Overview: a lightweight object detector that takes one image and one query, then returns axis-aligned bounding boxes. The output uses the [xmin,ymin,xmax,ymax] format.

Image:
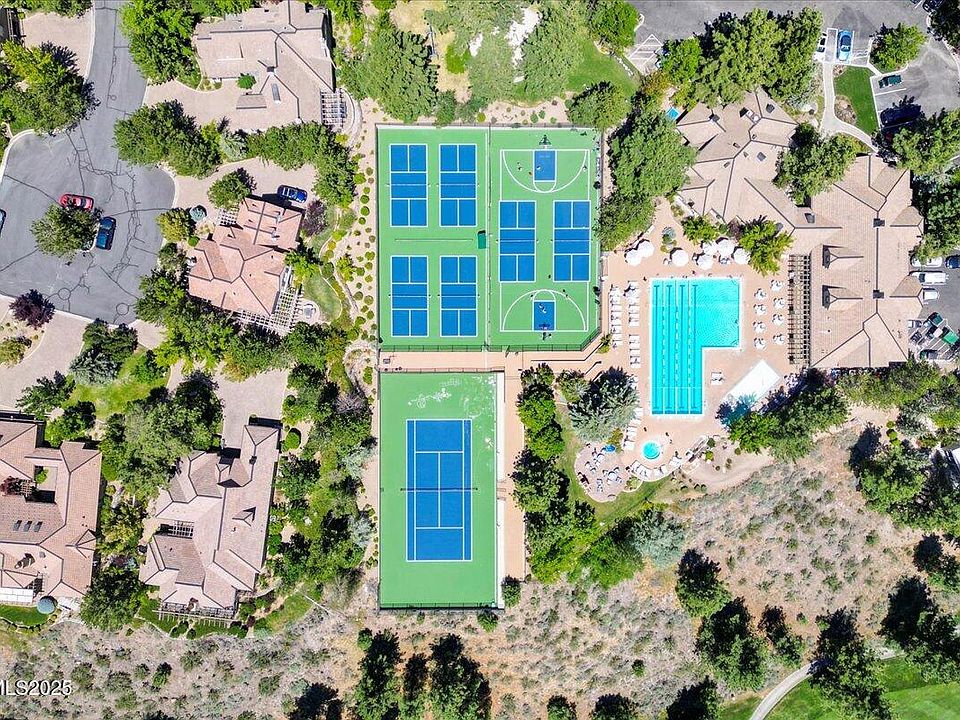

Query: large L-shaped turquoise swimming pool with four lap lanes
[649,276,743,417]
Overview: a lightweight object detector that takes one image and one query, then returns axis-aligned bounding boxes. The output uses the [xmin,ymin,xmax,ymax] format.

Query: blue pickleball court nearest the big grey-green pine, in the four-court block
[387,144,429,226]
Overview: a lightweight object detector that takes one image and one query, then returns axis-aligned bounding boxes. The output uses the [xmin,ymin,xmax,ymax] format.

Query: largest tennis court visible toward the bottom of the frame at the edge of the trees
[379,373,497,608]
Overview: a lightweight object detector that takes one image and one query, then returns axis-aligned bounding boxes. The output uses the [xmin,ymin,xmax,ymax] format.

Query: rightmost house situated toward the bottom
[140,424,280,611]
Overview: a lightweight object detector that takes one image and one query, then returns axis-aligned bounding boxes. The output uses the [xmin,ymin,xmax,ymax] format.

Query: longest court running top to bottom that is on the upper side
[489,128,599,349]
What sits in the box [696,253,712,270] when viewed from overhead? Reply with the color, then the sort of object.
white umbrella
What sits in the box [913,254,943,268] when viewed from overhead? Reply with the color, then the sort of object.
white car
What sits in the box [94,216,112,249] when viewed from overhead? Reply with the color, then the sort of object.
blue vehicle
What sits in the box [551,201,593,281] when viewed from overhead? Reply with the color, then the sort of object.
blue sports court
